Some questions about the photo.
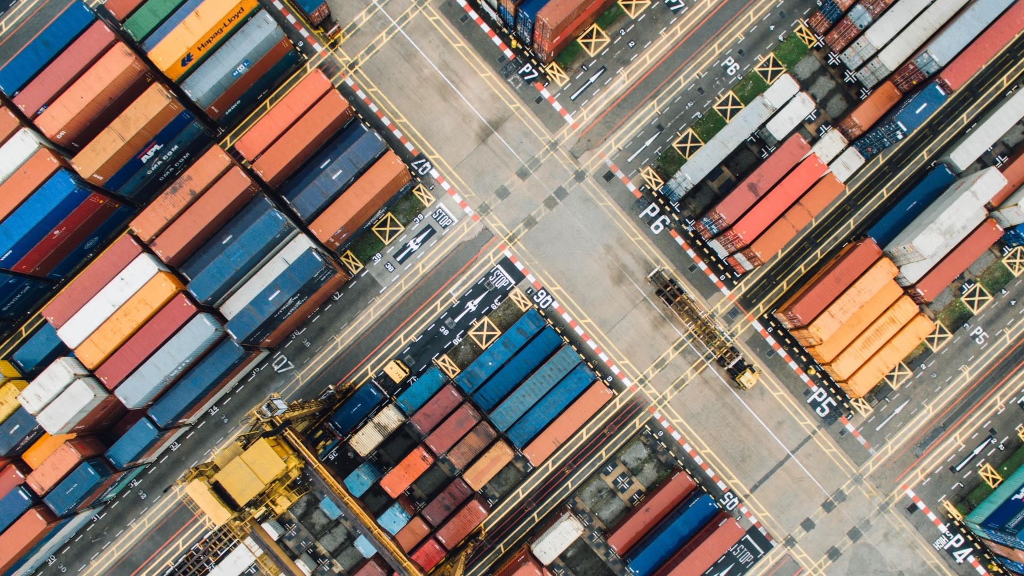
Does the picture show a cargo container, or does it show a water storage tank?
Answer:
cargo container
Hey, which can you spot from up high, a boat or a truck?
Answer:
truck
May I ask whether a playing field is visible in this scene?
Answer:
No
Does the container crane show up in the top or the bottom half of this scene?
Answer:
bottom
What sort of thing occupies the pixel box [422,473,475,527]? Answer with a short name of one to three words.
shipping container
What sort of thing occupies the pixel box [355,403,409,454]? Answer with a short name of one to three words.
shipping container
